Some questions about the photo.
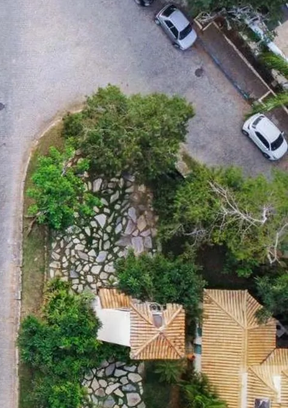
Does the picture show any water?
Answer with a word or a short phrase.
No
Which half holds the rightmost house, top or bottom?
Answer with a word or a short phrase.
top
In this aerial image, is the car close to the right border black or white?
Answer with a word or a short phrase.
white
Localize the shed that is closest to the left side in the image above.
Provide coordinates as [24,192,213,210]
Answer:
[81,289,188,360]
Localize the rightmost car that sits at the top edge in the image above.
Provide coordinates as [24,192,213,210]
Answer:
[152,1,197,52]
